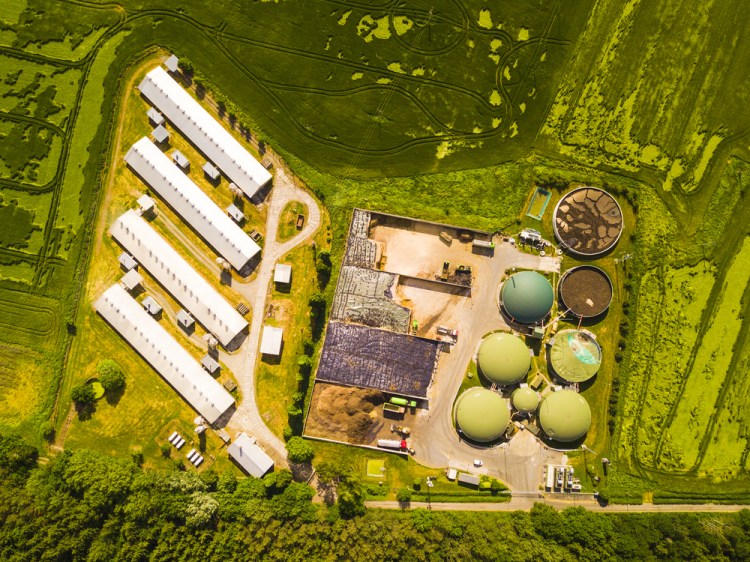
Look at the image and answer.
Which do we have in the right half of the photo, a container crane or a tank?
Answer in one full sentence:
You can see a tank in the right half of the photo.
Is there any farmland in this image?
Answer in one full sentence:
Yes, farmland can be seen from above here.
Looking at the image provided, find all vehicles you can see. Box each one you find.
[412,322,417,335]
[472,238,494,249]
[390,396,417,407]
[441,262,450,281]
[472,459,483,465]
[437,327,458,336]
[390,422,411,433]
[378,438,406,448]
[458,265,471,272]
[383,402,405,414]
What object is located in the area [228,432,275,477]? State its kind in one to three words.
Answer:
house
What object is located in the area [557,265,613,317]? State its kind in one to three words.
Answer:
storage tank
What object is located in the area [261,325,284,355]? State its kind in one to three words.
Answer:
shed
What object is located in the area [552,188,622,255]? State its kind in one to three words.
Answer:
storage tank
